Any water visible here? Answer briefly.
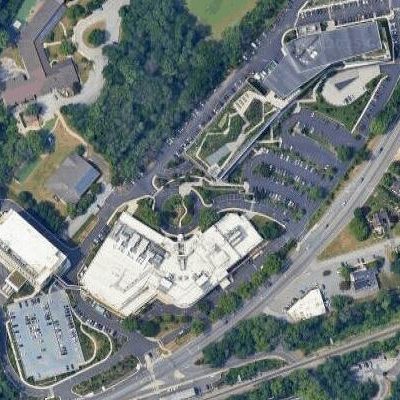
No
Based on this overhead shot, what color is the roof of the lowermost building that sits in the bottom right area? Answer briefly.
white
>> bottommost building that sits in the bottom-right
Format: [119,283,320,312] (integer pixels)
[287,289,326,323]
